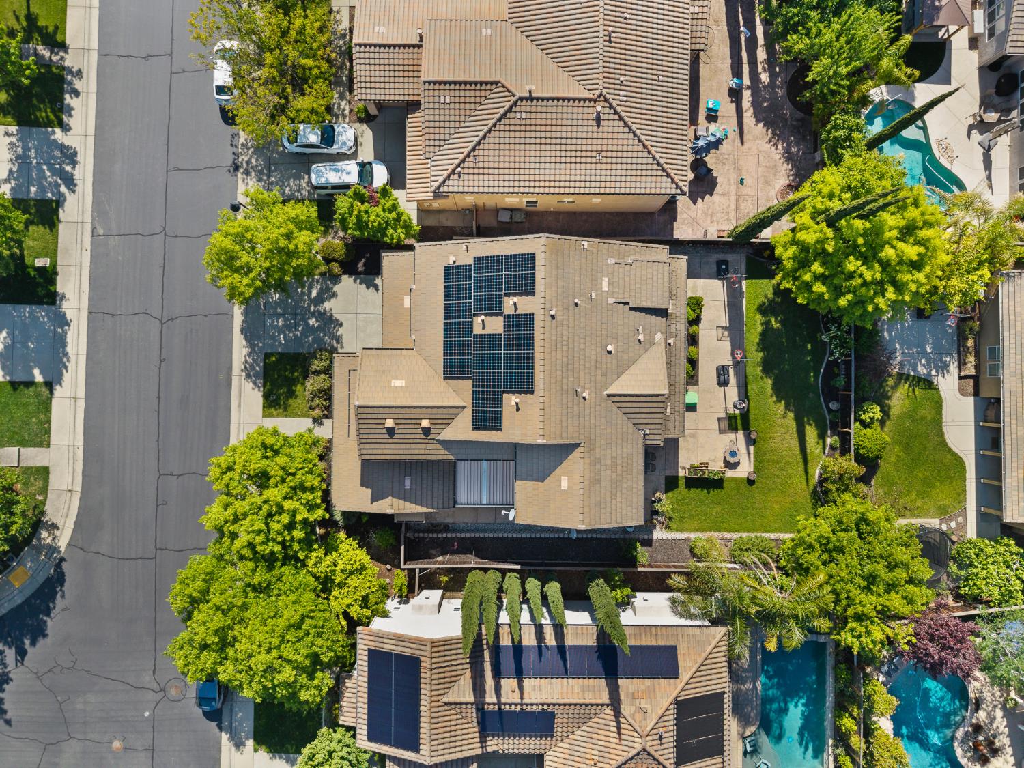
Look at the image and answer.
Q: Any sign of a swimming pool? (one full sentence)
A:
Yes, looking at the shot, I can spot a swimming pool.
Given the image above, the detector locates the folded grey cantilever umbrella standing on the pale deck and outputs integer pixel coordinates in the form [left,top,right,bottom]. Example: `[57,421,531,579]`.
[972,126,1023,150]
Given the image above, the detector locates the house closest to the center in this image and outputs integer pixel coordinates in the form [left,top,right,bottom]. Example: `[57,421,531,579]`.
[330,234,688,531]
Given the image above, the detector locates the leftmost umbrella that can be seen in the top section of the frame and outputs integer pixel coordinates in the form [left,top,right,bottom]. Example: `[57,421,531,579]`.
[690,133,728,153]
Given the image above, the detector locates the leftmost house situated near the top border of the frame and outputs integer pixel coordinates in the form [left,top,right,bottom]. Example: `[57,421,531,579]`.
[350,0,714,211]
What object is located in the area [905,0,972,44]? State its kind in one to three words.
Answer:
gazebo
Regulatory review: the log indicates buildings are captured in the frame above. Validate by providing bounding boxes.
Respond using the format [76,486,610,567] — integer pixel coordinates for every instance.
[979,268,1024,526]
[970,0,1024,237]
[330,234,688,531]
[337,590,730,768]
[350,0,714,211]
